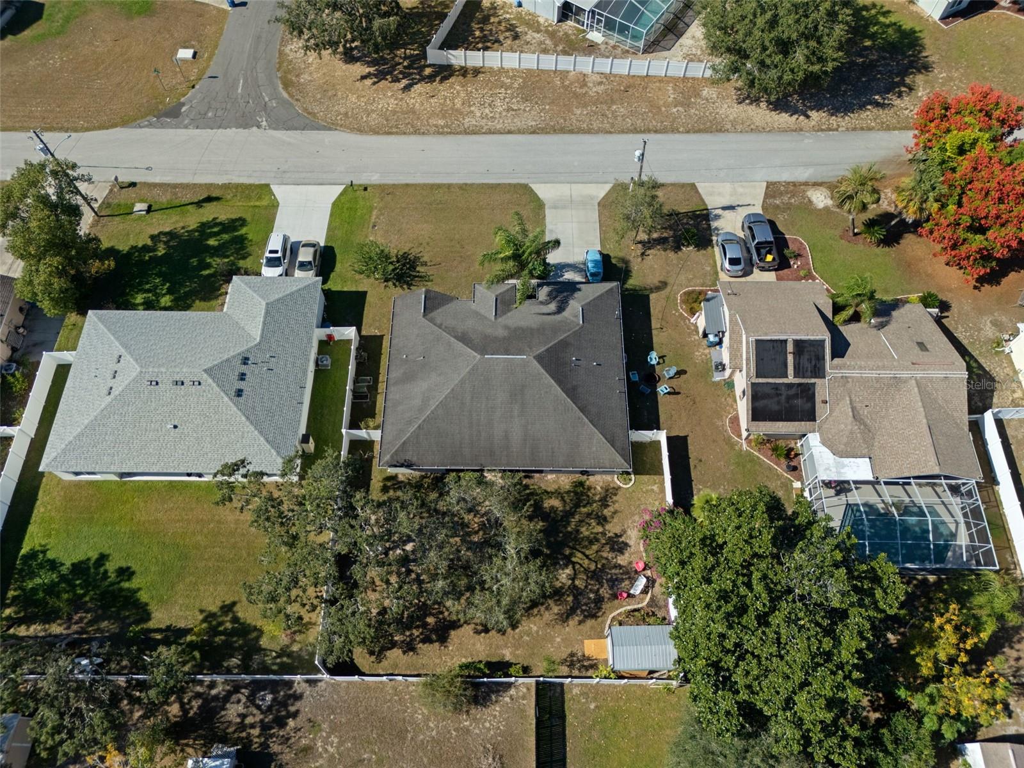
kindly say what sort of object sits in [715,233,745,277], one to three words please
car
